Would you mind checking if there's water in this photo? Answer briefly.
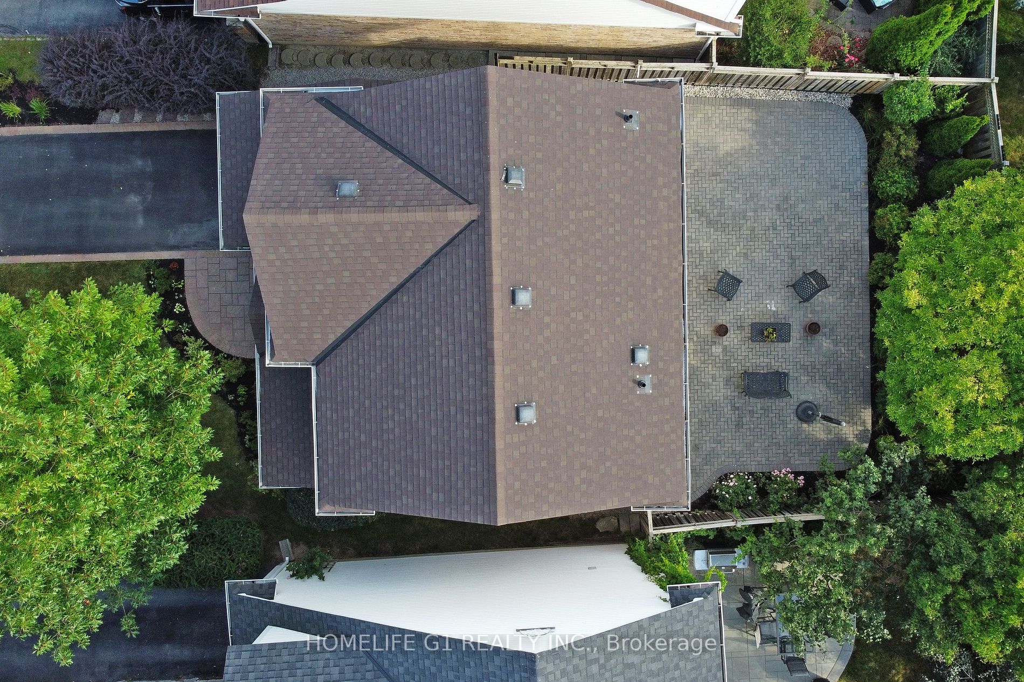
No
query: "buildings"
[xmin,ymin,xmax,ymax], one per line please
[226,545,726,682]
[194,0,737,62]
[217,65,691,526]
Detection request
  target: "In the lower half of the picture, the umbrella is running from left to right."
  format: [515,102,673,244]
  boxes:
[796,401,847,423]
